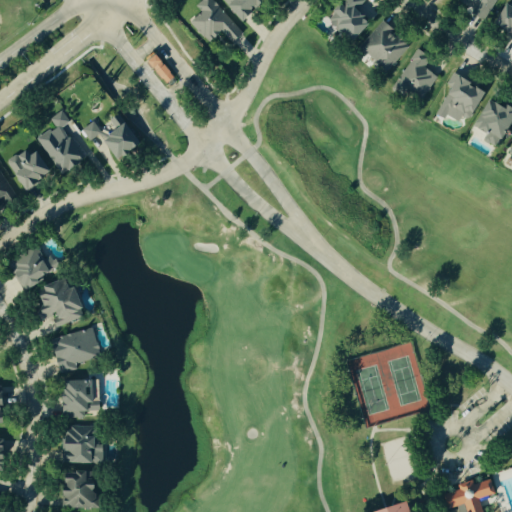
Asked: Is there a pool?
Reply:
Yes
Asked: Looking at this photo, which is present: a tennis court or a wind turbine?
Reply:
tennis court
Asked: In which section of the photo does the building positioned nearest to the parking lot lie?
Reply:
bottom right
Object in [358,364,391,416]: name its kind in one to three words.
tennis court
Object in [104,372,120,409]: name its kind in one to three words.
swimming pool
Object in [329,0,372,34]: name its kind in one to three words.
house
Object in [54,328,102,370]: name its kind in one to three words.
house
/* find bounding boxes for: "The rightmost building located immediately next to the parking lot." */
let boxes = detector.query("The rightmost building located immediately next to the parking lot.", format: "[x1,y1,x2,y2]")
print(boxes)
[446,476,500,512]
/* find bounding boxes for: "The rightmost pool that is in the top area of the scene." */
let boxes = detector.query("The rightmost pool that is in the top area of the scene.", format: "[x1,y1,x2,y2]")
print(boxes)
[468,132,495,157]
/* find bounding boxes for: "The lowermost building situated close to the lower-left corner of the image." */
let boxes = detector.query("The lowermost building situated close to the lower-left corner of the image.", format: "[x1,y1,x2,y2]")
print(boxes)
[57,468,98,512]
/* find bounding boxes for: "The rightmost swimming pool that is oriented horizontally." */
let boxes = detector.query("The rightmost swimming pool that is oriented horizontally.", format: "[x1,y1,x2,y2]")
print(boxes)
[434,115,465,129]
